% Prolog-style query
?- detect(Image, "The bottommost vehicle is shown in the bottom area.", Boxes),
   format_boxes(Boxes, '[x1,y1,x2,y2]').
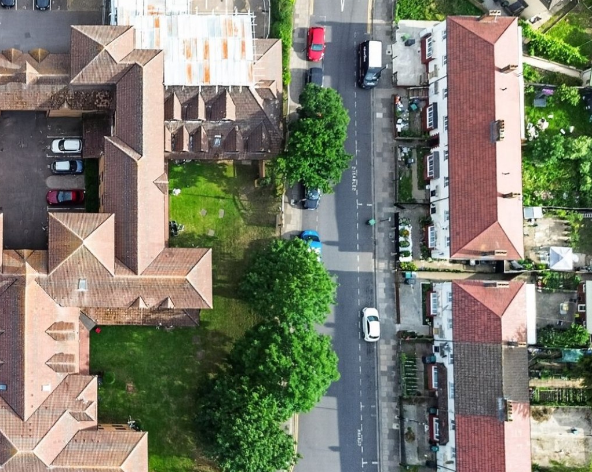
[360,307,380,341]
